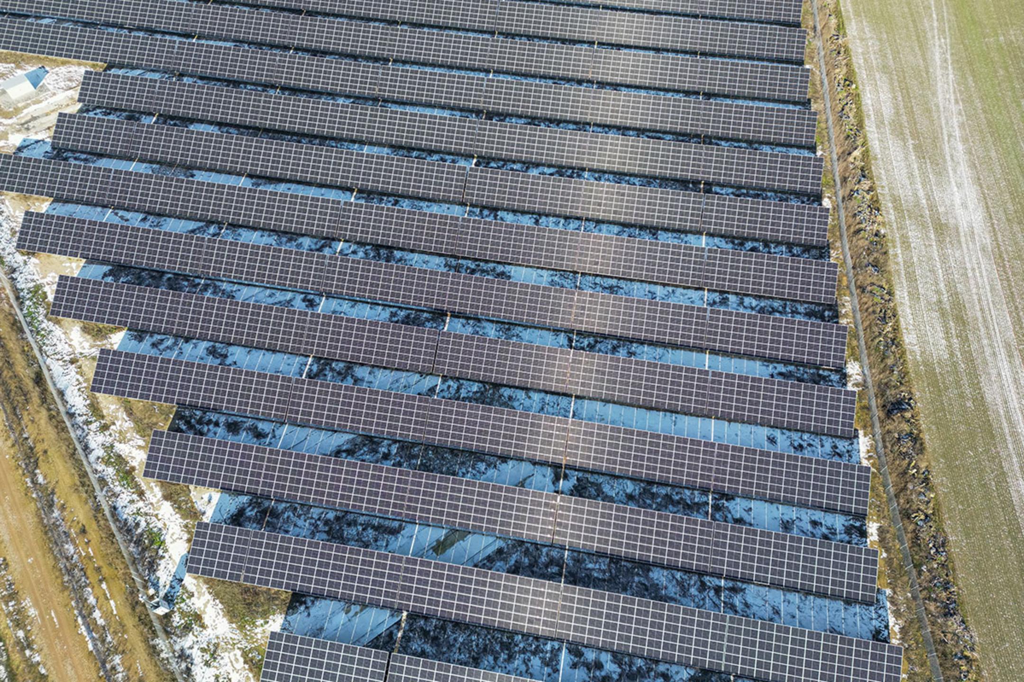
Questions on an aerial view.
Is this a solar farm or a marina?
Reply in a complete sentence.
The area seen from above is a solar farm.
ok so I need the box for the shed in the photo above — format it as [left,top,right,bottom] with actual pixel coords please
[3,73,36,99]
